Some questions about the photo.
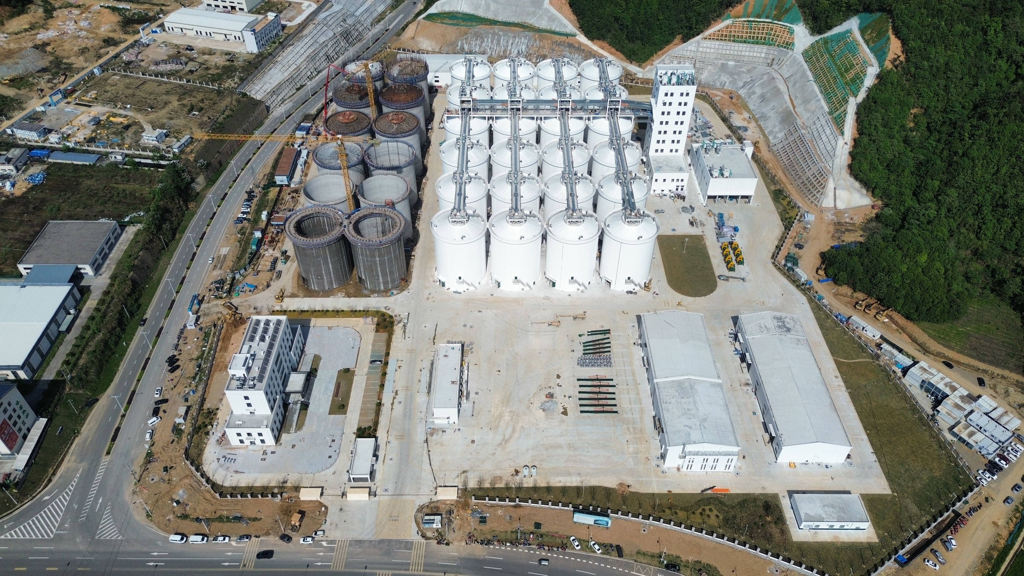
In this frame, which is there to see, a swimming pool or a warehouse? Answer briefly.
warehouse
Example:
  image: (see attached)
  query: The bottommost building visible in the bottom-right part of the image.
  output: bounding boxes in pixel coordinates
[792,495,869,530]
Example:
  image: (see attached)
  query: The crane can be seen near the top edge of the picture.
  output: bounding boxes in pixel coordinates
[344,25,427,134]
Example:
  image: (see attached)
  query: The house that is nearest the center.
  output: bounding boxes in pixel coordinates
[428,344,463,423]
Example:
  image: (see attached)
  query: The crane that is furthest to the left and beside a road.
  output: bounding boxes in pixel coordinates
[192,131,376,215]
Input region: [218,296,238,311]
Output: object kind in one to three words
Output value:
vehicle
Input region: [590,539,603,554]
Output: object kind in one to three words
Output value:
vehicle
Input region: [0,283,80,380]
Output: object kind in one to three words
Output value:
building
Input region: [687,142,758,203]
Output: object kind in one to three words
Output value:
house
